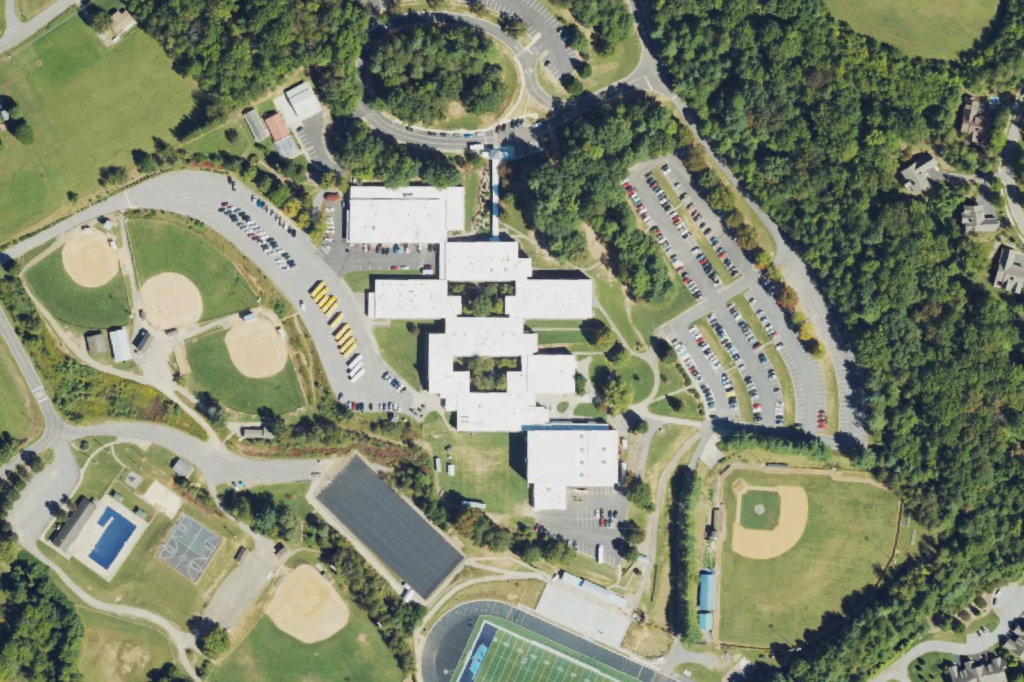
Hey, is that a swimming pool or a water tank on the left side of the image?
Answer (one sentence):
You can see a swimming pool on the left side of the image.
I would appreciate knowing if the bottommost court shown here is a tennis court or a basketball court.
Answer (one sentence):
From above, the bottommost court can be identified as a basketball court.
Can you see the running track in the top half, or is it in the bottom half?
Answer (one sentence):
The bottom half of the photo is where the running track is.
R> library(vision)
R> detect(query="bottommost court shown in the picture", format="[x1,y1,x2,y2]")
[156,512,222,582]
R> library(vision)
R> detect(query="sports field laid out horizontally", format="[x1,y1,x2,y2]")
[449,615,636,682]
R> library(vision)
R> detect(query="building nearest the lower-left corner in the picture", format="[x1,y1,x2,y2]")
[51,498,97,553]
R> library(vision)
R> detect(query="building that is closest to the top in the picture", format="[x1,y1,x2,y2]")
[110,8,139,41]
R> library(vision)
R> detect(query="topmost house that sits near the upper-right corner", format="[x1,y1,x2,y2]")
[961,98,986,142]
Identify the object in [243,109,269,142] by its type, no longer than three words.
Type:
shed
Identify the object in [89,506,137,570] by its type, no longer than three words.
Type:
swimming pool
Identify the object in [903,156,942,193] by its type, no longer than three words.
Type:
house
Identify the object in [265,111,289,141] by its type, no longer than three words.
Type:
building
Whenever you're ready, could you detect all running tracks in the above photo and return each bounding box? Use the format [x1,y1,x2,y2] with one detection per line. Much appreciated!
[422,599,656,682]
